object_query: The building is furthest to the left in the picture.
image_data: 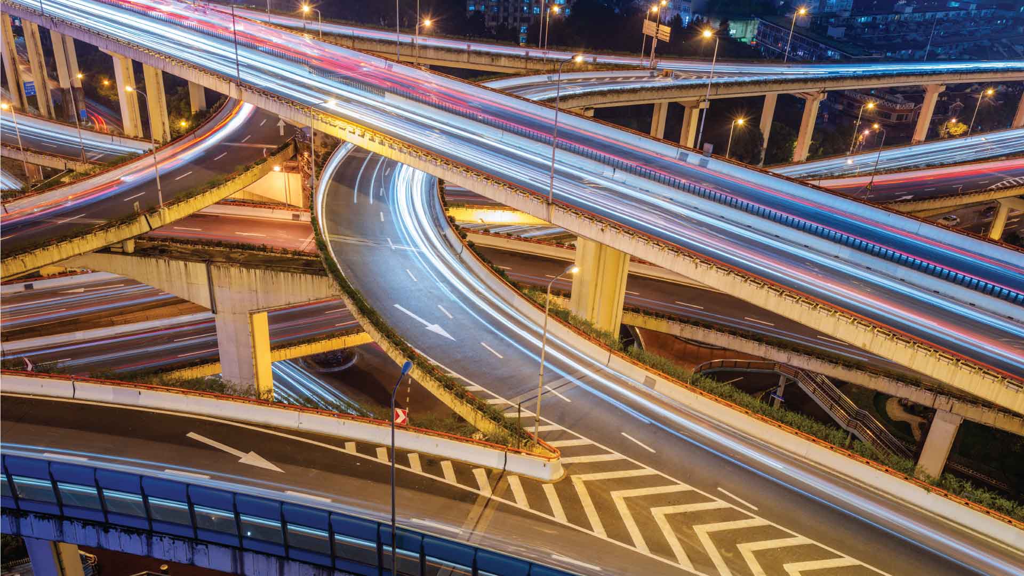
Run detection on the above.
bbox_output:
[486,0,557,37]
